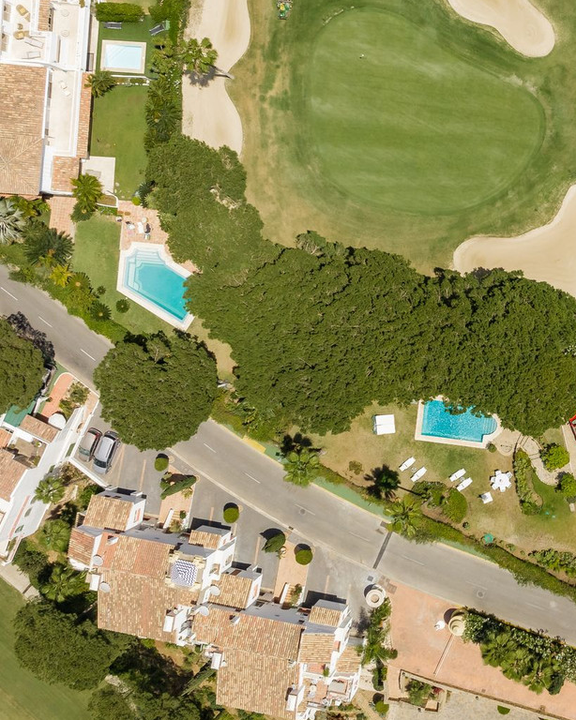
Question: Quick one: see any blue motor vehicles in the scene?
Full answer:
No, I can see no blue motor vehicle in this picture.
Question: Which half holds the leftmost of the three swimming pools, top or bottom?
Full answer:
The leftmost of the three swimming pools is in the top half of the image.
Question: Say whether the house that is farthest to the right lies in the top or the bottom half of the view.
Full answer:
The bottom half of the photo is where the house that is farthest to the right is.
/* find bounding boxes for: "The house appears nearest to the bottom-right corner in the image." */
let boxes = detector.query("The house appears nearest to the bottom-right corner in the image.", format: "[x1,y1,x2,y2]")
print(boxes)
[297,594,367,720]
